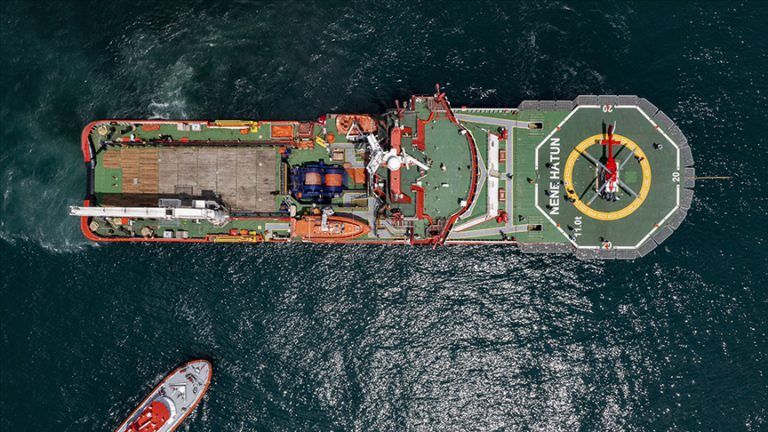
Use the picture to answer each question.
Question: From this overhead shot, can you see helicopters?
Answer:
Yes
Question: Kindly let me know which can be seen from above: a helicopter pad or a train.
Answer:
helicopter pad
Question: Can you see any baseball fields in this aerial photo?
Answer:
No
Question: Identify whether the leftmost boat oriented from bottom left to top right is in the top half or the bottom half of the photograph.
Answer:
bottom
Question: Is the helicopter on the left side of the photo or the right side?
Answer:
right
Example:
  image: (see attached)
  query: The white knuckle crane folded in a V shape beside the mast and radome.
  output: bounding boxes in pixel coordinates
[367,136,385,201]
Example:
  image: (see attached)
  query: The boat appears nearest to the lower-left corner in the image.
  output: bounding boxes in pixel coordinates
[118,360,212,432]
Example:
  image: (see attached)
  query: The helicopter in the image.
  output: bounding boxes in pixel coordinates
[584,118,638,206]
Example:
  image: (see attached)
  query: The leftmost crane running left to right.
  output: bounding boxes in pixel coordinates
[69,198,232,225]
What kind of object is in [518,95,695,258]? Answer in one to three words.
helipad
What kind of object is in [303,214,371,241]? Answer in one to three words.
boat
